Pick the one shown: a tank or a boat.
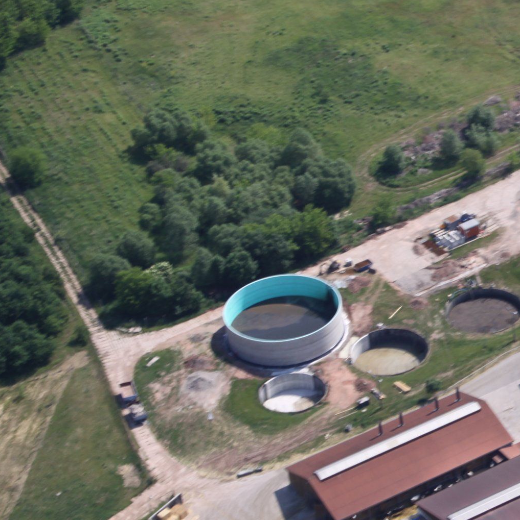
tank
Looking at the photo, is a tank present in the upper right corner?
No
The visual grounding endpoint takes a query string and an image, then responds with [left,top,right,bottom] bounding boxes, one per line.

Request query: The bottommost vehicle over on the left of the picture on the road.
[126,399,147,428]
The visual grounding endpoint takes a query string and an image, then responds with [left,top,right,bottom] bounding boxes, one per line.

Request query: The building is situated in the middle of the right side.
[460,218,484,237]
